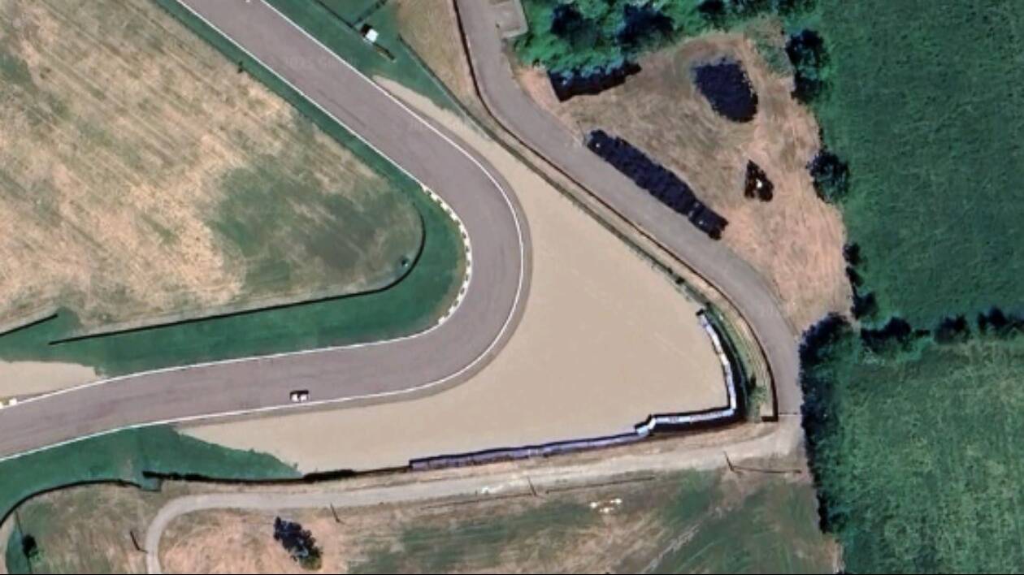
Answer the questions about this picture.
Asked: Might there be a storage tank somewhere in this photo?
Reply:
No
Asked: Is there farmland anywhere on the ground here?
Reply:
Yes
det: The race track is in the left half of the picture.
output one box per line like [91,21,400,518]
[0,0,524,462]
